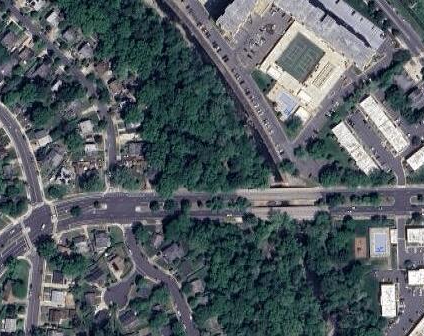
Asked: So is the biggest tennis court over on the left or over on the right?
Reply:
right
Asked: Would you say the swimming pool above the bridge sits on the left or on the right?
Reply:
right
